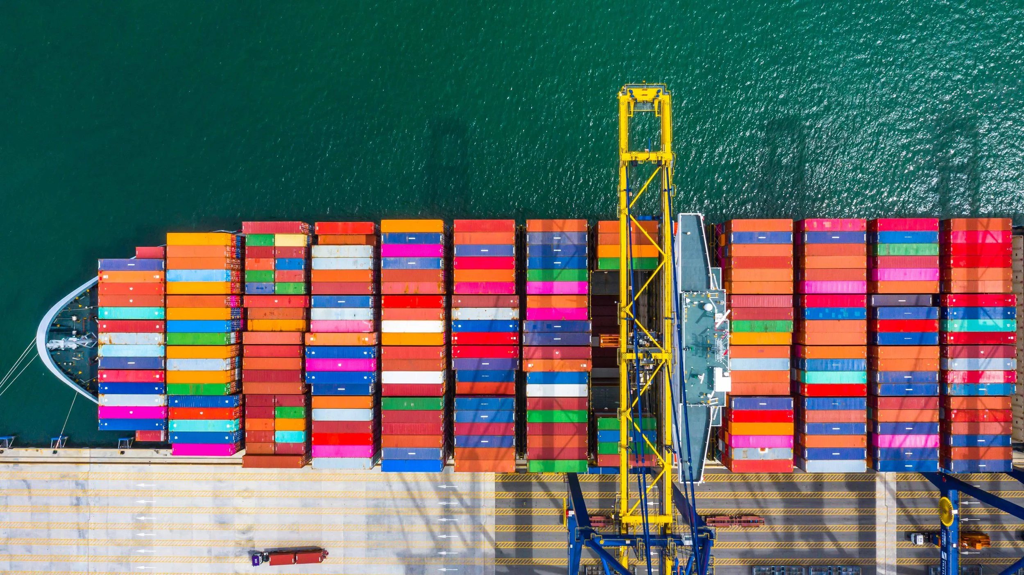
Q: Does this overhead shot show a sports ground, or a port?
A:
port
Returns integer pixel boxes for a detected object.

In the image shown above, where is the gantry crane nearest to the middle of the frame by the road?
[558,72,731,575]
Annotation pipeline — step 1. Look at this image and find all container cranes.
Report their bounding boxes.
[903,462,1024,575]
[558,72,731,575]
